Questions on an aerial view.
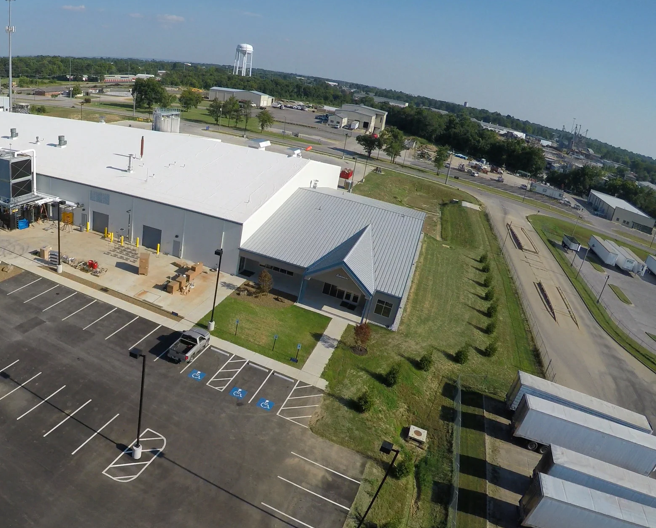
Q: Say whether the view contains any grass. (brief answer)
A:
Yes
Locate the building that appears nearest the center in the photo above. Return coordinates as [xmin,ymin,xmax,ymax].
[234,180,426,329]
